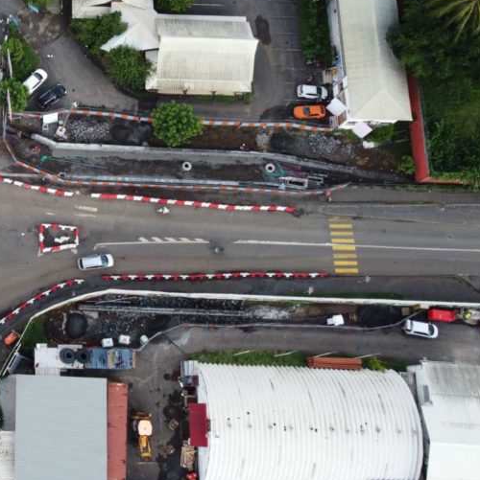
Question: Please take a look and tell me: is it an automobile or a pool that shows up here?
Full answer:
The one in the frame is an automobile.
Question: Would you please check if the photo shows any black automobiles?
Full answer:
Yes, there's a black automobile here.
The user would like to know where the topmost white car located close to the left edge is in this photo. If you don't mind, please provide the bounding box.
[23,69,49,95]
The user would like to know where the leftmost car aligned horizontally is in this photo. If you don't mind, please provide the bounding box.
[78,253,114,271]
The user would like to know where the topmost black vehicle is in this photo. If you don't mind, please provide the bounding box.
[38,85,68,109]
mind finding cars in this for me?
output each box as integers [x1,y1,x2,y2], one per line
[292,105,325,120]
[23,69,49,95]
[402,321,438,339]
[296,84,328,100]
[38,85,68,109]
[78,253,114,271]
